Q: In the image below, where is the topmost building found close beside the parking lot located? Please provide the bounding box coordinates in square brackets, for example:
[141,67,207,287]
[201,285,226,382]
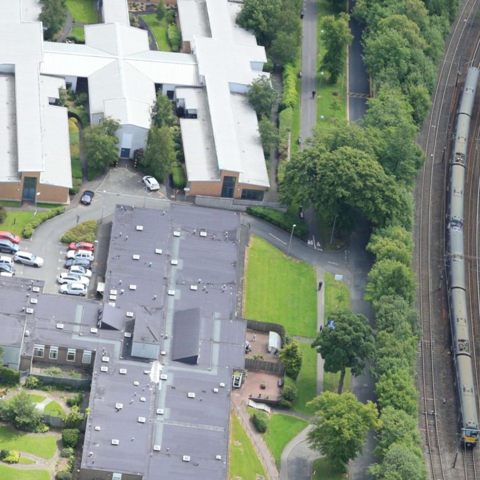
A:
[0,0,271,204]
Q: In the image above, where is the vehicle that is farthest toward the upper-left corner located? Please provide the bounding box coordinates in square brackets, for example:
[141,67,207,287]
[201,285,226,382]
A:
[80,190,95,206]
